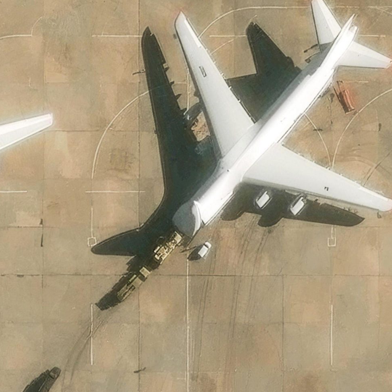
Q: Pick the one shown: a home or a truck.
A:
truck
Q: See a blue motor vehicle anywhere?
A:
No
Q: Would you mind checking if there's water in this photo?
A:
No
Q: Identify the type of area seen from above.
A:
airport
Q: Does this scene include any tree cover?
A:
No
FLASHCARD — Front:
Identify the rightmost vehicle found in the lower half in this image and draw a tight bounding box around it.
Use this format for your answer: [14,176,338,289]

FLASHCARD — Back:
[195,241,213,261]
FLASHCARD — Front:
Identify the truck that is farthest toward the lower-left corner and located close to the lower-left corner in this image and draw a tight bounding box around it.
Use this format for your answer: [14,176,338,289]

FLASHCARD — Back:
[40,367,64,392]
